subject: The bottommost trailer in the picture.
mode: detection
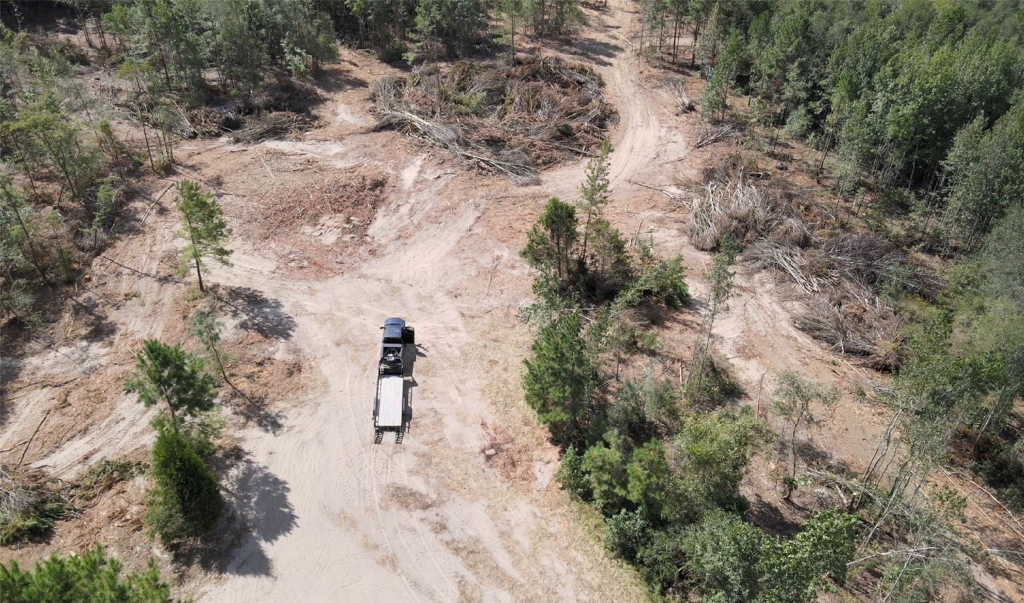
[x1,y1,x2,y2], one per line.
[369,343,408,447]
